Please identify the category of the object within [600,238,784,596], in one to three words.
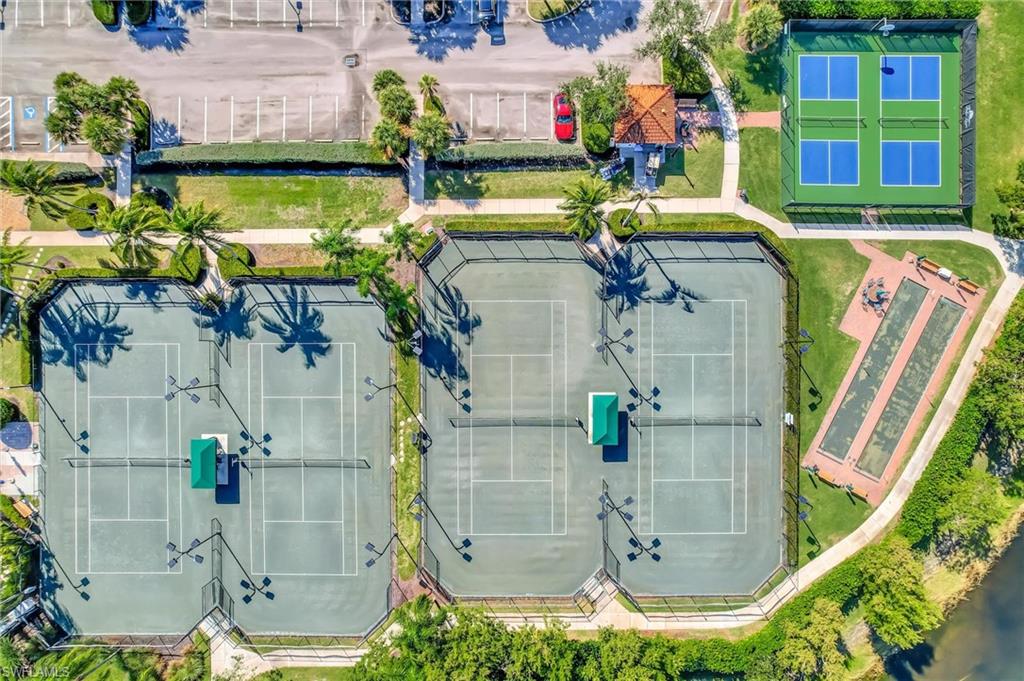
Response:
tennis court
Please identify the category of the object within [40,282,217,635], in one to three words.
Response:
tennis court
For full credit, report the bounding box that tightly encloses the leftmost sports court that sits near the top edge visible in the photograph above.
[781,33,870,210]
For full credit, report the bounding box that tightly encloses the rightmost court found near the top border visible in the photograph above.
[870,33,961,210]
